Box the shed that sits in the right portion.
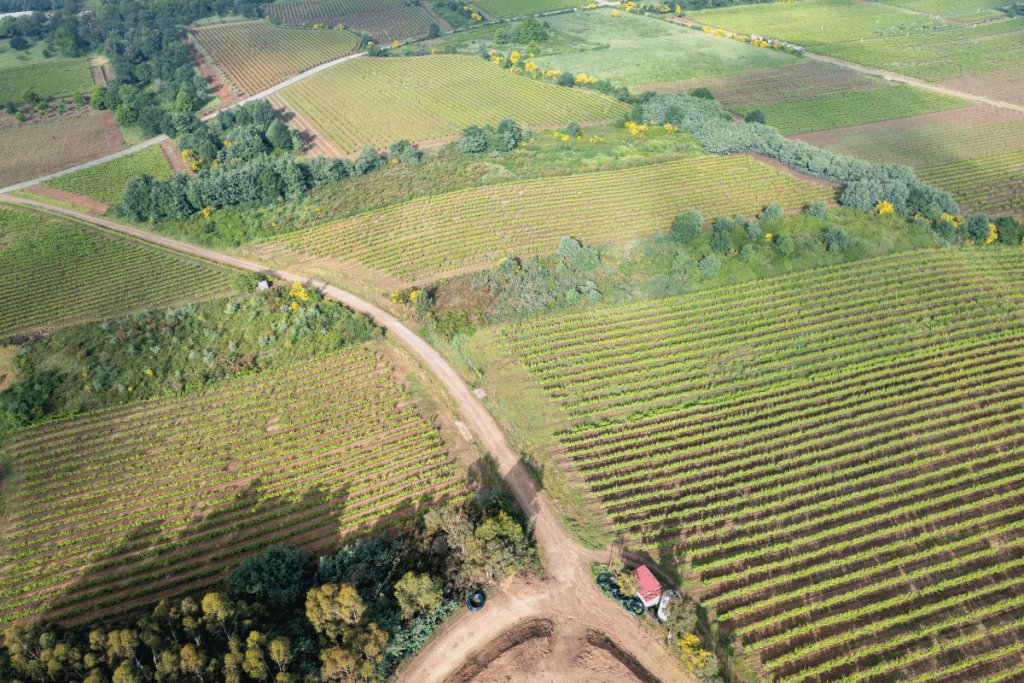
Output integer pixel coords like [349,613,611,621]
[630,571,663,607]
